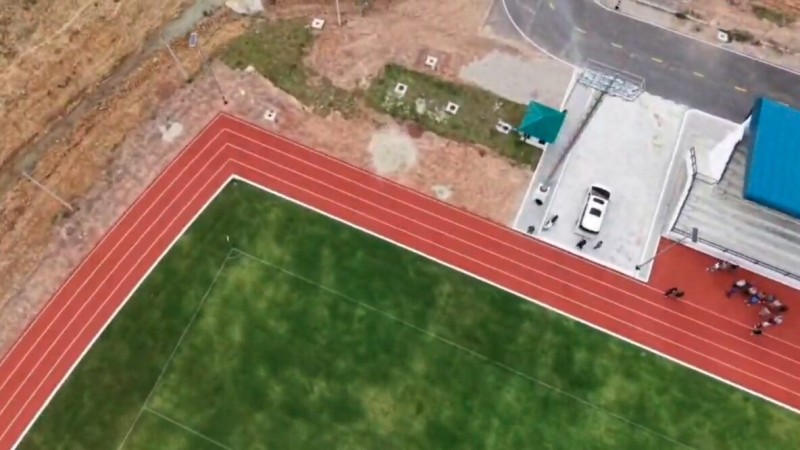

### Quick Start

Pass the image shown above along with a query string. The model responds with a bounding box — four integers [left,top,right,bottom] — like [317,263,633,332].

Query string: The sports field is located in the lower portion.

[12,177,800,450]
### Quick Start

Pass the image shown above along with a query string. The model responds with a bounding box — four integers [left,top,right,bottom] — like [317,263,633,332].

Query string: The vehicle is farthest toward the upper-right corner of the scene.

[576,186,611,240]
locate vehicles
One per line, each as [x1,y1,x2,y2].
[576,186,611,240]
[541,214,557,230]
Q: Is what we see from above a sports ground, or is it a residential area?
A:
sports ground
